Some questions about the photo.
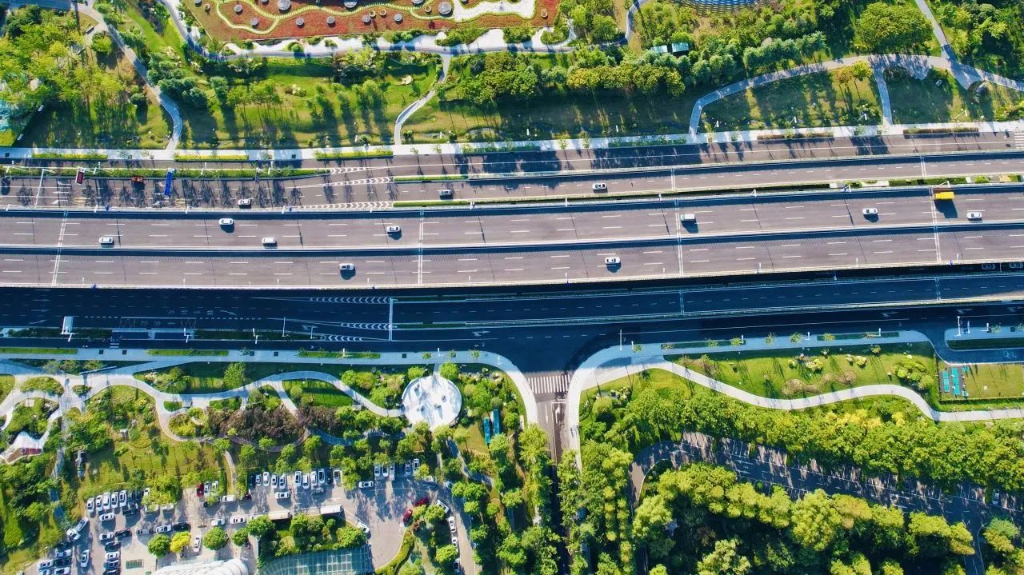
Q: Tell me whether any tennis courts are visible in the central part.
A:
No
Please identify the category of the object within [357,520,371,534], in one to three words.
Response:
car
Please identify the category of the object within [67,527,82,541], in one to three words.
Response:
car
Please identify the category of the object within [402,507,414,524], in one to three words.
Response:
vehicle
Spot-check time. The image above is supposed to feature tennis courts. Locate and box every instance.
[941,366,966,398]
